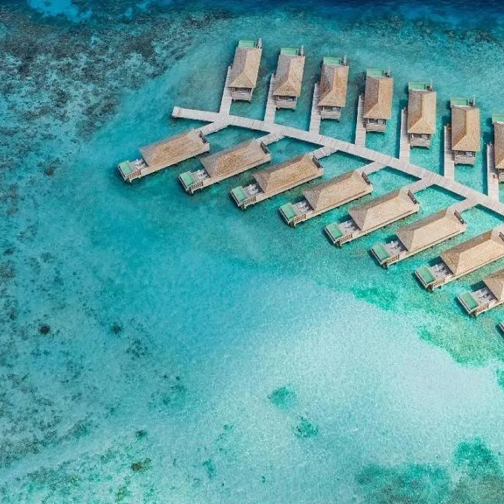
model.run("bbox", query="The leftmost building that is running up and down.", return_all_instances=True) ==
[228,43,264,110]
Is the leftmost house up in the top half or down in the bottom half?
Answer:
top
